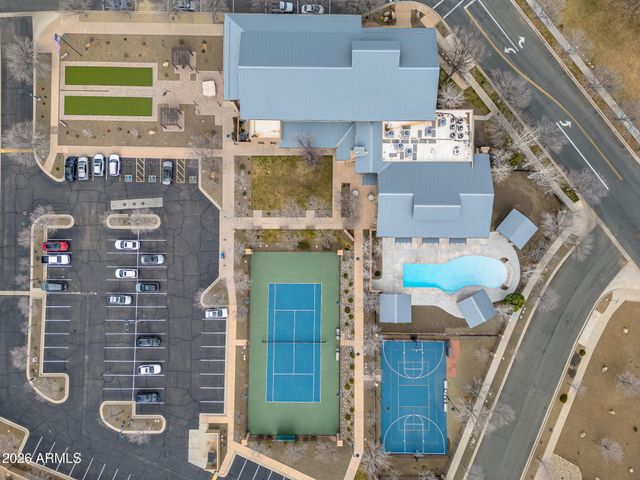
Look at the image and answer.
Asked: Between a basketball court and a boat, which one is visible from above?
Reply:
basketball court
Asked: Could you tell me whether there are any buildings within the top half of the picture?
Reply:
Yes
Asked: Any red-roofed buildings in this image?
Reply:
No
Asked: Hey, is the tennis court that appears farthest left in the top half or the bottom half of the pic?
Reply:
bottom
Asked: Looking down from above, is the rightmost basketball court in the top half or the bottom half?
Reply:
bottom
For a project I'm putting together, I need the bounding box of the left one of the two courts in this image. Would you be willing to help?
[249,252,341,437]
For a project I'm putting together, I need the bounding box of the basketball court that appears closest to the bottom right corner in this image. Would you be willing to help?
[381,341,448,454]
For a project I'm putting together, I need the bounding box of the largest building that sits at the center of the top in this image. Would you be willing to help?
[224,13,494,244]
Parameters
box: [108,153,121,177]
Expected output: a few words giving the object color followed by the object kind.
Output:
white vehicle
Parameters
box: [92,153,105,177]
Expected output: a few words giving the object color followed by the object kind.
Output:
white vehicle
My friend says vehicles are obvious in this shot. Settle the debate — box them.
[41,254,71,266]
[63,156,78,181]
[77,156,90,181]
[136,392,161,403]
[116,268,139,279]
[141,254,166,265]
[138,364,162,375]
[42,240,69,252]
[266,0,294,13]
[301,2,324,13]
[108,153,121,177]
[109,295,133,306]
[204,308,228,319]
[137,336,162,348]
[136,282,160,293]
[41,281,69,292]
[92,153,105,177]
[174,0,197,11]
[116,239,140,250]
[161,161,173,184]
